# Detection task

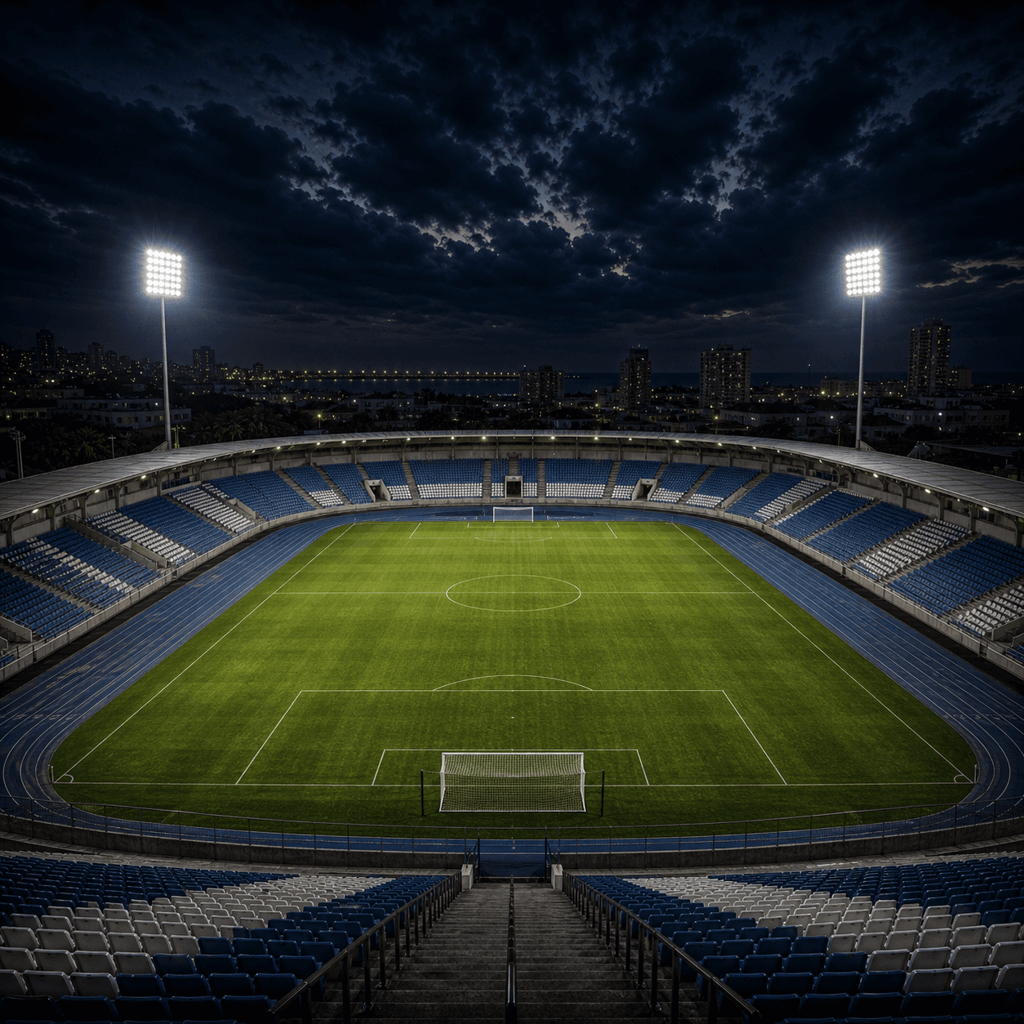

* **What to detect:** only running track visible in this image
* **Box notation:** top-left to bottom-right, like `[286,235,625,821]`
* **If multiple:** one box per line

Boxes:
[0,507,1024,863]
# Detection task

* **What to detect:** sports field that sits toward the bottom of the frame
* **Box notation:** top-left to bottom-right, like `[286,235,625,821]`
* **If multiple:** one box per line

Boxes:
[62,521,962,838]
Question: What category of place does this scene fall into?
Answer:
sports ground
